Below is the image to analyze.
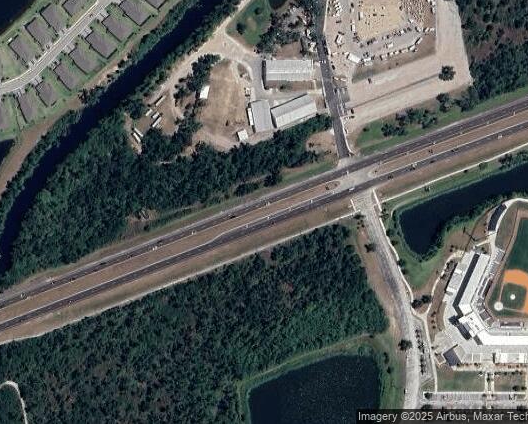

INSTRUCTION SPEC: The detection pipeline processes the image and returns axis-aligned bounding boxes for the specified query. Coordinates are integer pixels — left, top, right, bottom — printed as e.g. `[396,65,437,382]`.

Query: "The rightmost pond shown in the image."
[399,163,528,254]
